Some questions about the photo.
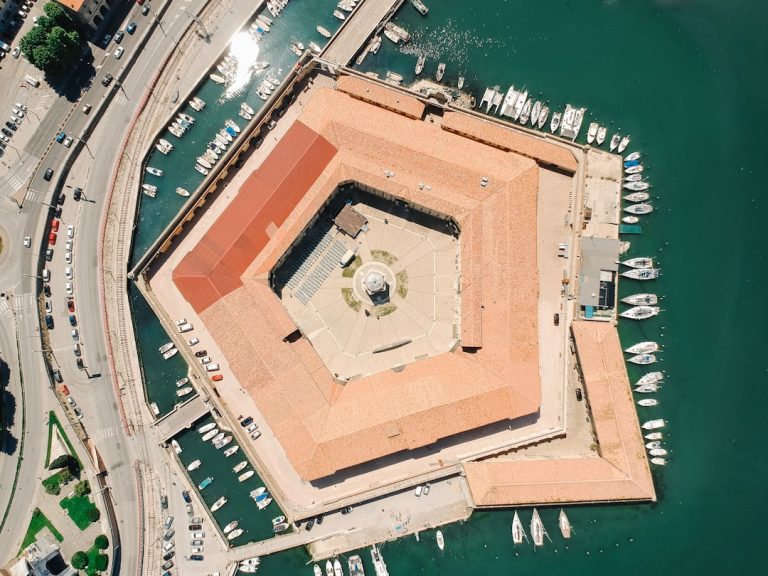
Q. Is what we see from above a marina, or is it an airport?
marina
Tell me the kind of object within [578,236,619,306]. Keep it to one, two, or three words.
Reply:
building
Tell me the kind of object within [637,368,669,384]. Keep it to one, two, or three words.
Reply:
boat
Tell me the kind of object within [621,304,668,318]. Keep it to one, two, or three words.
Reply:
boat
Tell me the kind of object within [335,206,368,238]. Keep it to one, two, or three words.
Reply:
house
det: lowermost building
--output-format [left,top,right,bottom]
[12,537,91,576]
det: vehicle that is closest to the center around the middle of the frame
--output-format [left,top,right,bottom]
[340,245,358,266]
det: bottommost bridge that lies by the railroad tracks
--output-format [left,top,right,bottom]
[151,394,211,442]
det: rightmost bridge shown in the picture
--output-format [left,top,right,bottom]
[318,0,399,68]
